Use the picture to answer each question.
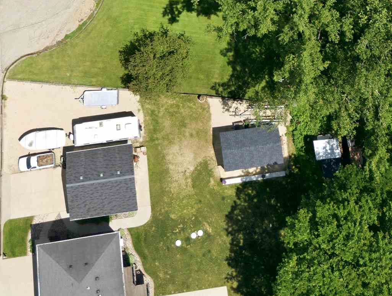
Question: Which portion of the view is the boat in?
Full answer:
Look in the left portion of the view to spot the boat.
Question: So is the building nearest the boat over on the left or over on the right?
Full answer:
The building nearest the boat is on the left side of the image.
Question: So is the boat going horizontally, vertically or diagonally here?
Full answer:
What the image shows is the boat lying horizontally.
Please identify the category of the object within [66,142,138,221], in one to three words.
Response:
building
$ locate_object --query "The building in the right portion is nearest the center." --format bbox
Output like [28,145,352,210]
[220,126,283,172]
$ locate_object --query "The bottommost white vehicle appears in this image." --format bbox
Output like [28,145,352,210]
[18,150,57,173]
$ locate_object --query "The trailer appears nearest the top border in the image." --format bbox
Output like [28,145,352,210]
[75,87,121,109]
